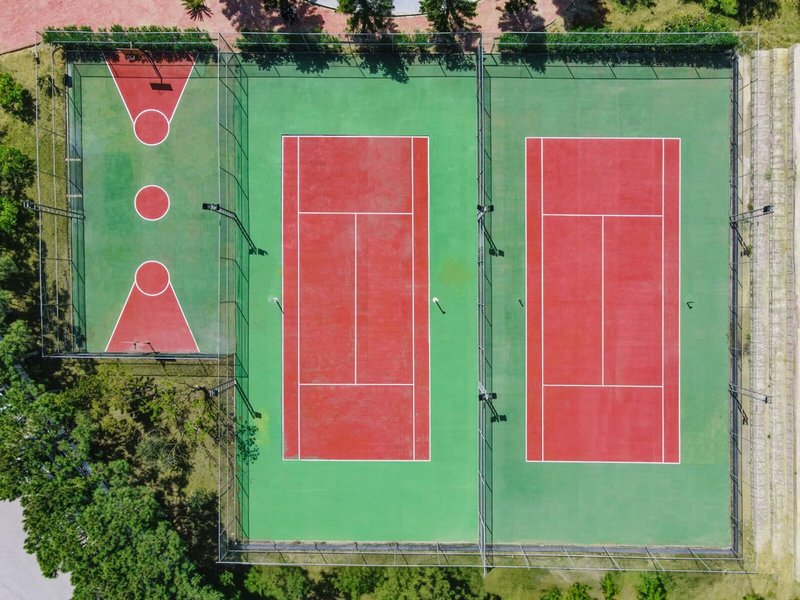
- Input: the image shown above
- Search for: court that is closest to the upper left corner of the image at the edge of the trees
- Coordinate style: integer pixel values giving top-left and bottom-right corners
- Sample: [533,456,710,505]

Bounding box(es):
[68,51,234,353]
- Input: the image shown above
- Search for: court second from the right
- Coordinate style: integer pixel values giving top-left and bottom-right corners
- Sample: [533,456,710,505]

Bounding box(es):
[235,52,478,541]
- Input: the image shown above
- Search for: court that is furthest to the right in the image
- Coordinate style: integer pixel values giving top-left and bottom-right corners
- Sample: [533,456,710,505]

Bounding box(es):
[479,52,730,545]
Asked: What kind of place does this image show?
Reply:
sports ground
